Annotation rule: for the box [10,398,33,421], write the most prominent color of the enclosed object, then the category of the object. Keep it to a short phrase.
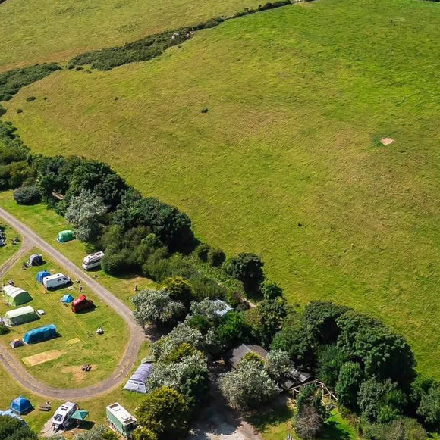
blue tent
